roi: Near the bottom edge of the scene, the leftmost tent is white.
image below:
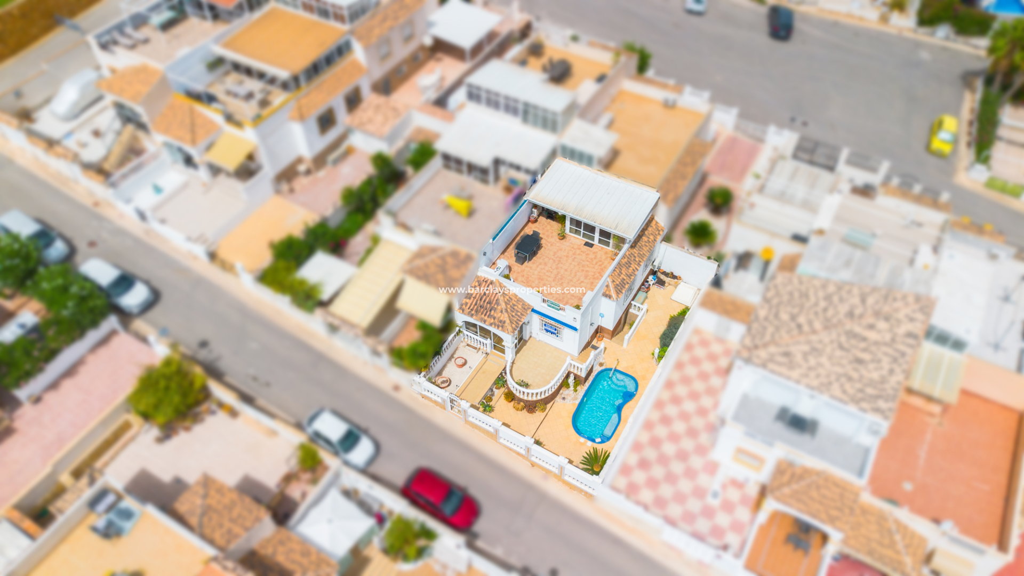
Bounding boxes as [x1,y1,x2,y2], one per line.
[291,481,392,576]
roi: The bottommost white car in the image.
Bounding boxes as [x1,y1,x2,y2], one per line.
[299,409,377,472]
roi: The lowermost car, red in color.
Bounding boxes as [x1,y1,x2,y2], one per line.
[397,468,476,534]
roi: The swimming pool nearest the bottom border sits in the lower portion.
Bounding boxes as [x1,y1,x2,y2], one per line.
[572,355,637,443]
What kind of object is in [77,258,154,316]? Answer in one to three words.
car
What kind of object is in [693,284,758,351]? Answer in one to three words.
shed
